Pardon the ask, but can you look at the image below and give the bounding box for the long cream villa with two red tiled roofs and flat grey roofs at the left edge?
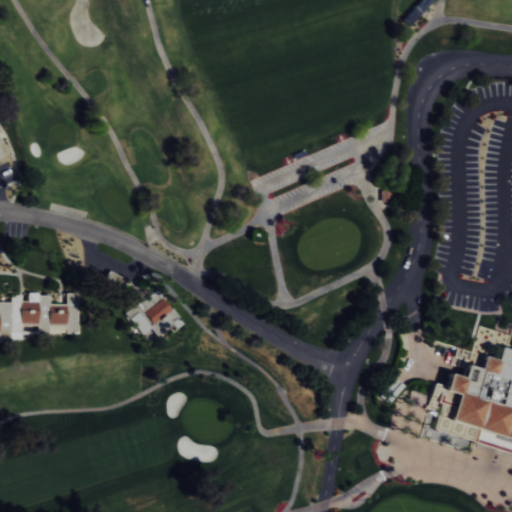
[0,293,80,342]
